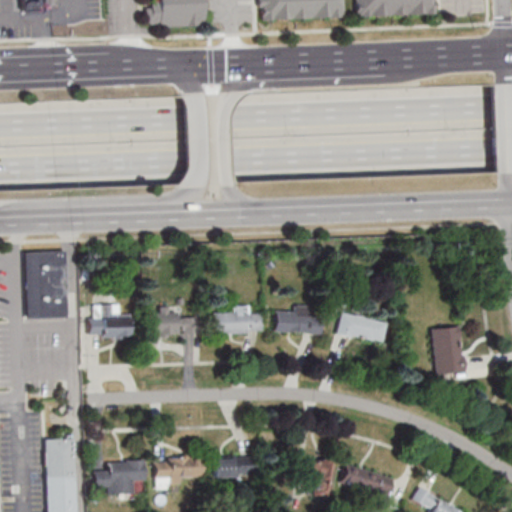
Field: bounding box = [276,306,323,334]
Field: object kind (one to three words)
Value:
house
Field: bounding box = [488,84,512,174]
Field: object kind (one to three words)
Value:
overpass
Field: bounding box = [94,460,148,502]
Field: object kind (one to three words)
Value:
house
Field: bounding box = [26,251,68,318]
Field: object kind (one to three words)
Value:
building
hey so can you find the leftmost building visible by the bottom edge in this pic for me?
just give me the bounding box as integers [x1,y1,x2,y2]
[46,438,78,512]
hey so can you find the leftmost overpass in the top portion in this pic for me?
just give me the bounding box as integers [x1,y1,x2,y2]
[162,84,259,199]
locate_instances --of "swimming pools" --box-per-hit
[154,494,168,508]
